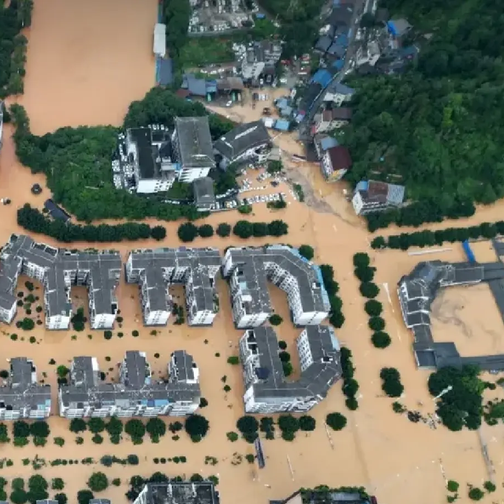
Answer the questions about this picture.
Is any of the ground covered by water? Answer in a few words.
Yes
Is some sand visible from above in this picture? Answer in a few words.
No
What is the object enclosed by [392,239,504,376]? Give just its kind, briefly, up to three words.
building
